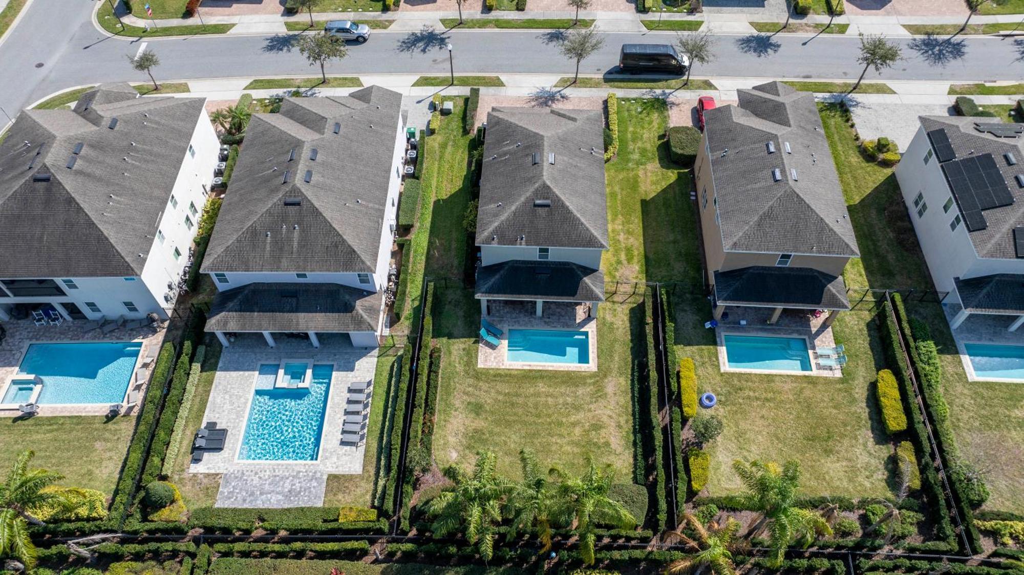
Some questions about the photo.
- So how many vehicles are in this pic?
3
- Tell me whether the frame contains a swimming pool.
Yes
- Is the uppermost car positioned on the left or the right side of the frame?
left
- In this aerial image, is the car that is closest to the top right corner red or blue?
red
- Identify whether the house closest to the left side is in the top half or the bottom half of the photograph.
top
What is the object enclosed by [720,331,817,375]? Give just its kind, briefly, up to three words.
swimming pool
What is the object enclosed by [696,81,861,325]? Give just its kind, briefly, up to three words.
house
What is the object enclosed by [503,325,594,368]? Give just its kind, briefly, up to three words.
swimming pool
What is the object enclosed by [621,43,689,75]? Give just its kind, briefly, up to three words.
van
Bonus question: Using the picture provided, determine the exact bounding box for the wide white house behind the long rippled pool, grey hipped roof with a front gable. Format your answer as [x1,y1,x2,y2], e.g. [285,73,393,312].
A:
[200,85,405,347]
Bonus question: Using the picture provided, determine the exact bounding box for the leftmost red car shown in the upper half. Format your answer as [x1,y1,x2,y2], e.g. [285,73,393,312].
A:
[697,94,718,129]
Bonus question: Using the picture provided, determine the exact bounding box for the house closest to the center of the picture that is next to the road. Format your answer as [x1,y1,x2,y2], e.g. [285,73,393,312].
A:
[474,106,609,318]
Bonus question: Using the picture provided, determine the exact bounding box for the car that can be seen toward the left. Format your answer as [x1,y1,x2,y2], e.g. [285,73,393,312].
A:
[323,17,372,42]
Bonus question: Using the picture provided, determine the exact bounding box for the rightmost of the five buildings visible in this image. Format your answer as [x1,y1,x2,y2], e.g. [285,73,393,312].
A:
[897,116,1024,331]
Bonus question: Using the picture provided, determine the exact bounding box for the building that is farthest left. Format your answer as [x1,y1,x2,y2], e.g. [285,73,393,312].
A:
[0,82,219,318]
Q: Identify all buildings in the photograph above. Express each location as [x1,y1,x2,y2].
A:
[200,85,405,347]
[696,81,861,325]
[897,116,1024,331]
[0,82,219,318]
[474,106,609,318]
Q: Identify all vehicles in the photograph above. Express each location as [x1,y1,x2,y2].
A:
[323,17,372,42]
[621,43,689,75]
[697,94,718,129]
